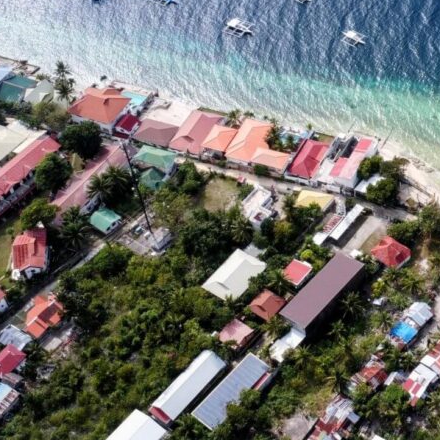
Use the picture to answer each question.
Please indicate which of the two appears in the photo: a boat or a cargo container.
boat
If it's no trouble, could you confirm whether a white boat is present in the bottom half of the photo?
No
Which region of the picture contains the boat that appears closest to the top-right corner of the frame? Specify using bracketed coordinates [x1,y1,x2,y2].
[341,32,368,49]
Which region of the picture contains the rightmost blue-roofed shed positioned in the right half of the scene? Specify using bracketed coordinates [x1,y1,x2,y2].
[391,318,418,345]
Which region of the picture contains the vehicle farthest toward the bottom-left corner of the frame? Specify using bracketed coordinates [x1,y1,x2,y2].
[129,224,147,238]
